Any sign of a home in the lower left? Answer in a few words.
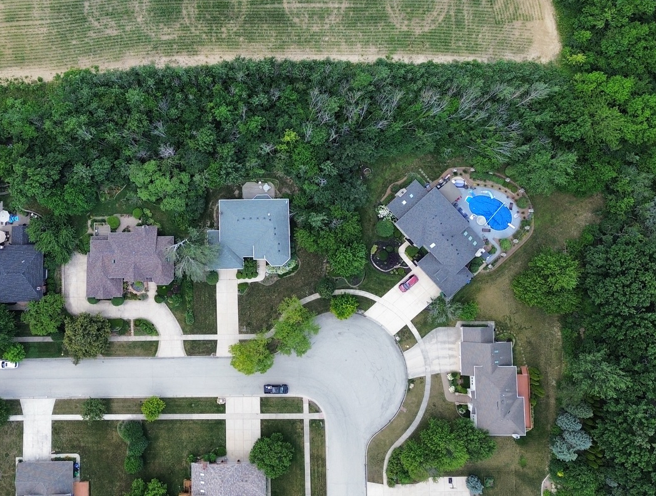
Yes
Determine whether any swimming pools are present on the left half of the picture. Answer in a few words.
No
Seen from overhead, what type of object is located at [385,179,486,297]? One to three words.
house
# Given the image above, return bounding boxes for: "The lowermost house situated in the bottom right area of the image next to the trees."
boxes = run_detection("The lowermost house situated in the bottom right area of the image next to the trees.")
[457,325,526,439]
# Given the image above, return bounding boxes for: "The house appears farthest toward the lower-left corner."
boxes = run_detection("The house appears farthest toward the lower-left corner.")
[15,455,76,496]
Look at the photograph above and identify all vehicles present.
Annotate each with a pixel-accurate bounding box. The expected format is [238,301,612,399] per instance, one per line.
[0,360,19,369]
[264,383,289,395]
[398,273,419,292]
